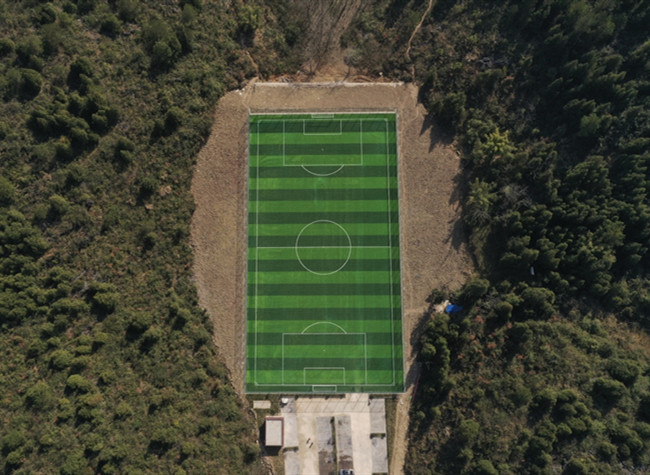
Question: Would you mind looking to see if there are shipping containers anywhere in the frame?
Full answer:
No, there's no shipping container here.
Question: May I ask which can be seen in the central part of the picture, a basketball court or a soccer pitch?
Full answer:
It is a soccer pitch that can be seen in the central part of the picture.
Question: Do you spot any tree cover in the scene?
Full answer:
Yes, there is tree cover in the image.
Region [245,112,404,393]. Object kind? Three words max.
soccer field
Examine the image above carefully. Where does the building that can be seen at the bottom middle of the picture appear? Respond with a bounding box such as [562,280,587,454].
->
[267,416,284,446]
